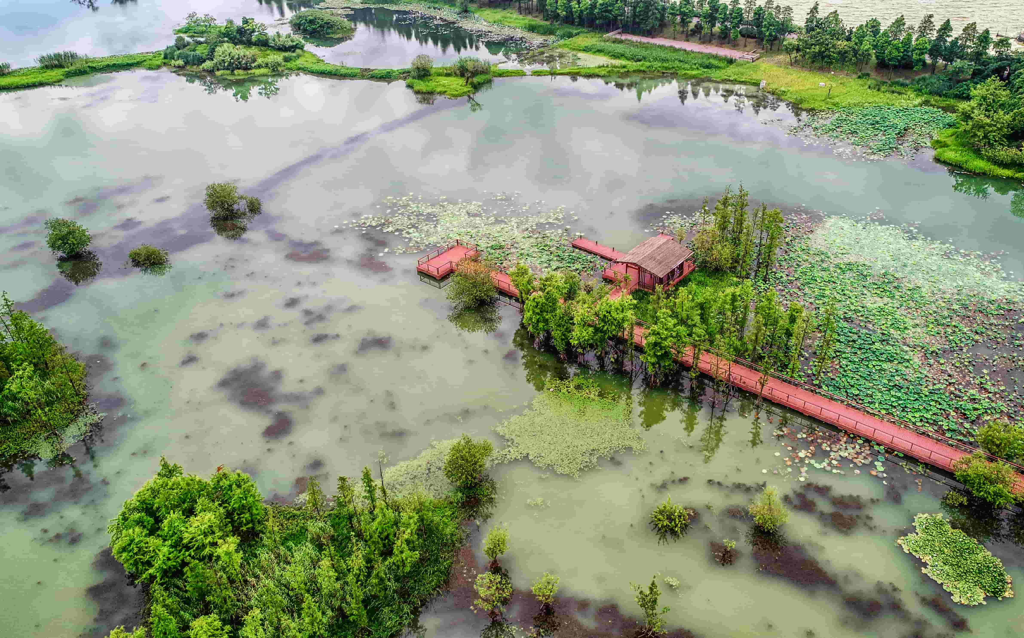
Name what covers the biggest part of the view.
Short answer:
water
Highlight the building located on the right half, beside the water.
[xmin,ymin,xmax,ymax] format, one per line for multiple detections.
[602,236,698,293]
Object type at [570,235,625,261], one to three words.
pier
